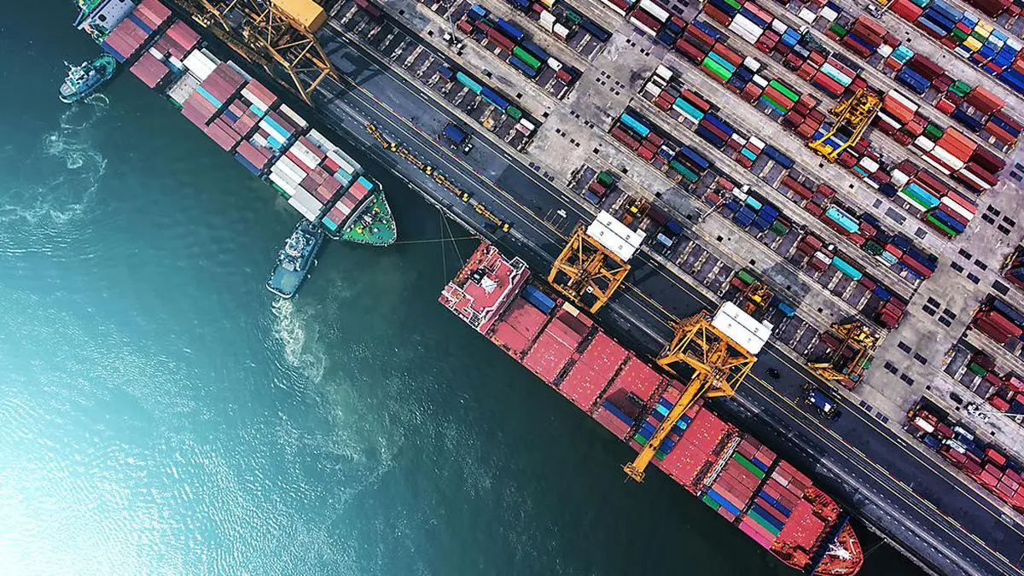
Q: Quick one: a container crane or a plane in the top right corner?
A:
container crane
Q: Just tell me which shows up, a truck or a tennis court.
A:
truck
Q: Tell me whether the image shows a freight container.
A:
Yes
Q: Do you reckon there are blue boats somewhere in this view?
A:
Yes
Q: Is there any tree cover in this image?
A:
No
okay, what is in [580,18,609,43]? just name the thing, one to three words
shipping container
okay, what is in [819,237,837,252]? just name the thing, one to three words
vehicle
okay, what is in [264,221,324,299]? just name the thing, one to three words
boat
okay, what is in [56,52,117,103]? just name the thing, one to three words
boat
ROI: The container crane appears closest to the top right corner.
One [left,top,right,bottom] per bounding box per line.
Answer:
[804,87,884,166]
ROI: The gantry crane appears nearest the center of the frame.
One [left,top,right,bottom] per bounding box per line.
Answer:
[541,191,656,320]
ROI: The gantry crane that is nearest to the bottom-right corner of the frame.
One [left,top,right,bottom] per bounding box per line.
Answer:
[805,320,886,384]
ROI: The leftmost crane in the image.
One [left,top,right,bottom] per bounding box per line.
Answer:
[183,0,274,63]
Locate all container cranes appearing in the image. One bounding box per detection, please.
[541,191,656,320]
[183,0,274,63]
[805,320,886,384]
[621,280,782,485]
[230,0,343,112]
[804,87,884,166]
